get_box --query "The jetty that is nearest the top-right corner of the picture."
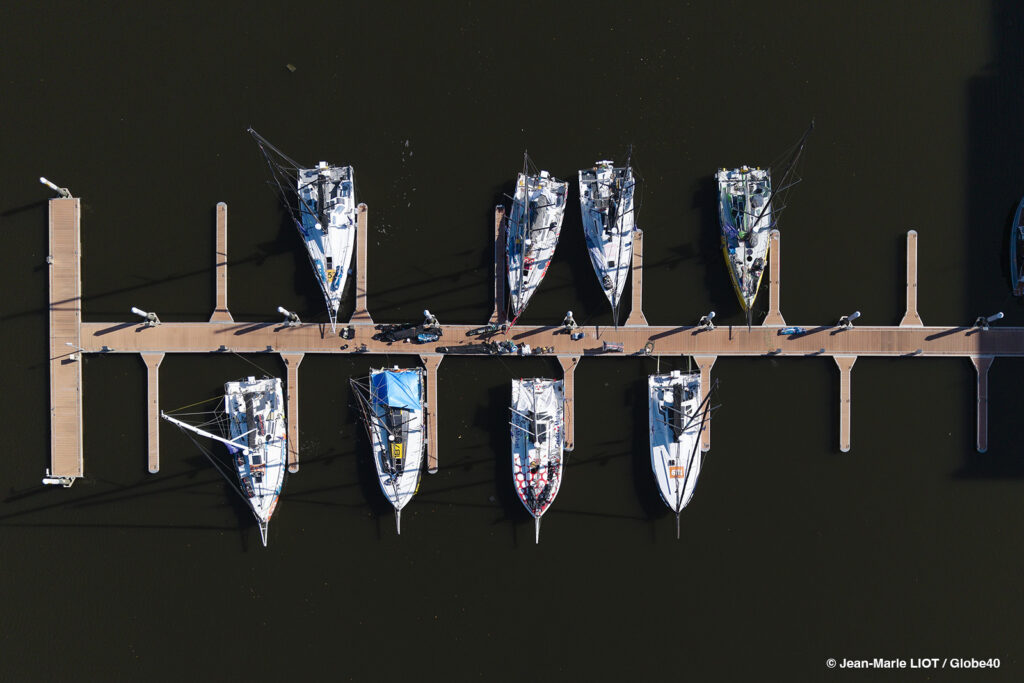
[899,230,923,326]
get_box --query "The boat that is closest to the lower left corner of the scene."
[158,378,287,547]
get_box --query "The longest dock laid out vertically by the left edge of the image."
[42,189,85,487]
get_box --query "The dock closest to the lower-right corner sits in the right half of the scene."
[969,357,994,452]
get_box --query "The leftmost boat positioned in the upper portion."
[249,123,356,333]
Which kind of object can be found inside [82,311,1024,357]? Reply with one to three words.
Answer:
pier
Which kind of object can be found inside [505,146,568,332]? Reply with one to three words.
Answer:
boat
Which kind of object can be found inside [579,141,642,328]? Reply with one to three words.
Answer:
boat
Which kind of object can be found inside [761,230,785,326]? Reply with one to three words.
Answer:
pier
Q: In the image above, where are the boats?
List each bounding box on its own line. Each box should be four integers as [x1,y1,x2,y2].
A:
[505,146,568,332]
[1008,194,1024,297]
[158,378,287,547]
[350,363,424,534]
[249,123,356,333]
[717,117,815,329]
[648,370,718,538]
[510,377,564,544]
[579,141,642,328]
